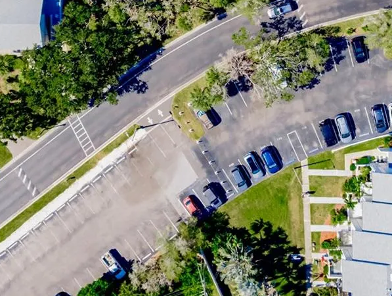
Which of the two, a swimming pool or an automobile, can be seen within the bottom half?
automobile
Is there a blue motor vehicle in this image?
Yes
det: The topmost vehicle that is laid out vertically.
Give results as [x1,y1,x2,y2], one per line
[353,36,366,63]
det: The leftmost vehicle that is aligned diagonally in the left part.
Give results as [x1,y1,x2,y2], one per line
[100,250,126,280]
